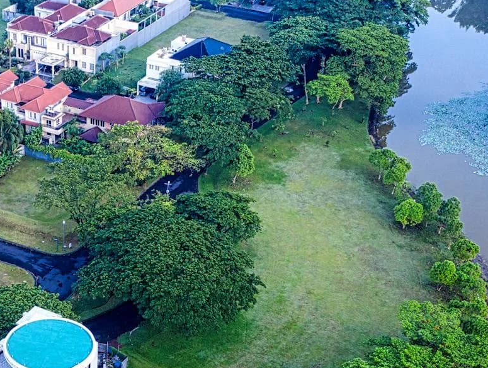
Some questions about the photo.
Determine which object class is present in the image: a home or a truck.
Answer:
home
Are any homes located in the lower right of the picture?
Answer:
No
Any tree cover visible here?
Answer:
Yes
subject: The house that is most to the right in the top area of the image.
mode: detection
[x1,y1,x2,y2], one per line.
[134,29,232,100]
